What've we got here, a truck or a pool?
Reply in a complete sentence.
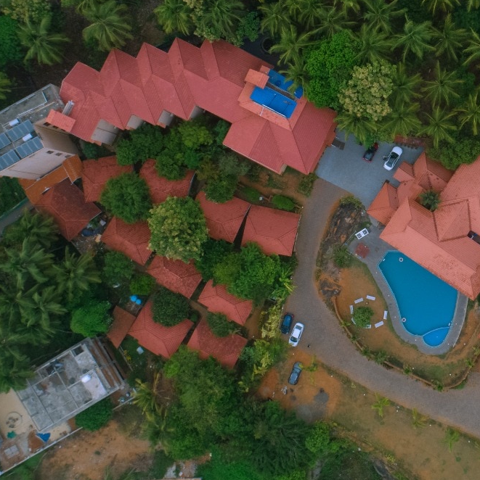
Of the two, only a pool appears.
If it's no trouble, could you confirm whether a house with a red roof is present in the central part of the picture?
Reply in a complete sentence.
Yes, I can see a house with a red roof in the central part of the picture.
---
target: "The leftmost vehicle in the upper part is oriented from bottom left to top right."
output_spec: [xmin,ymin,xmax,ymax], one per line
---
[361,141,380,163]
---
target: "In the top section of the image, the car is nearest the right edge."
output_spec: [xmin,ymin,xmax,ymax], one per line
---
[384,145,402,170]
